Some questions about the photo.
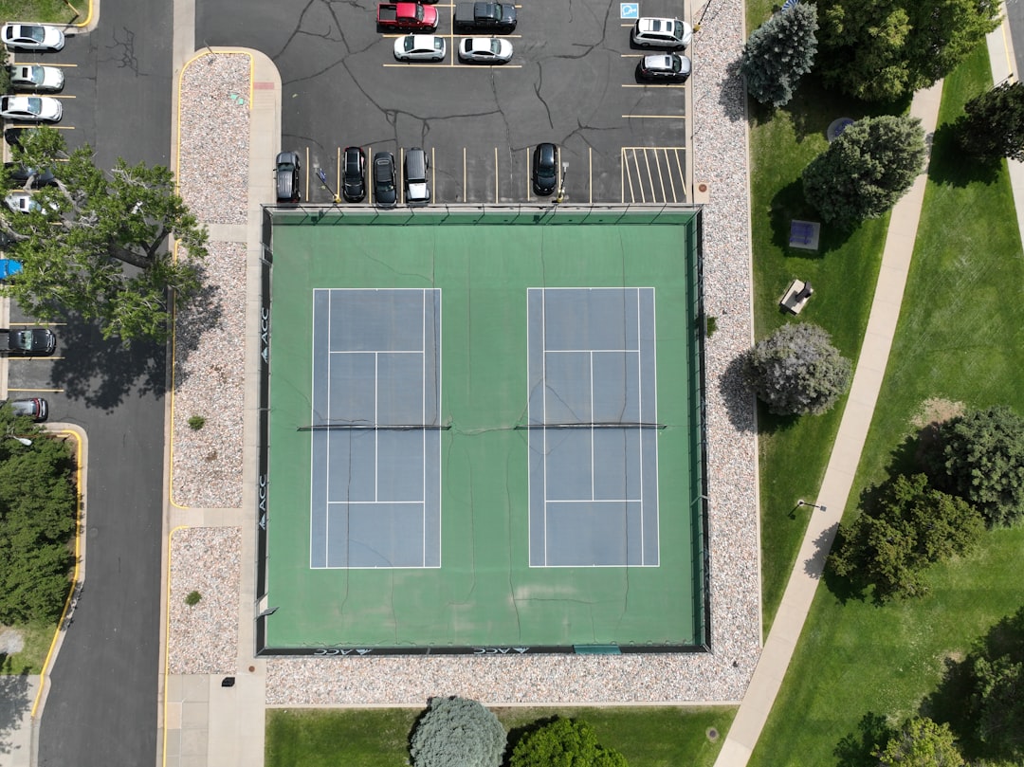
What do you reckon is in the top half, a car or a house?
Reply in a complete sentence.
There is a car in the top half.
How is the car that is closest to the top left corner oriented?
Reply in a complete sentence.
In this picture, the car that is closest to the top left corner is oriented from left to right.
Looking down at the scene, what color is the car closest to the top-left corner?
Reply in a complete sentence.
The car closest to the top-left corner looks white in the image.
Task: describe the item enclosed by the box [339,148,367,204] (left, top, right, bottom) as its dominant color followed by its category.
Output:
black car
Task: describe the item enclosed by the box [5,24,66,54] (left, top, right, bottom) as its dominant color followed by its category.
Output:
white car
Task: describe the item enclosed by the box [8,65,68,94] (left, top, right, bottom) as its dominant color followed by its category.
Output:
white car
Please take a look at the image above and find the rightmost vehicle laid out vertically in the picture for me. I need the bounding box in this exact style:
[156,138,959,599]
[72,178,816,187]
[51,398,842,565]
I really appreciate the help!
[532,145,559,199]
